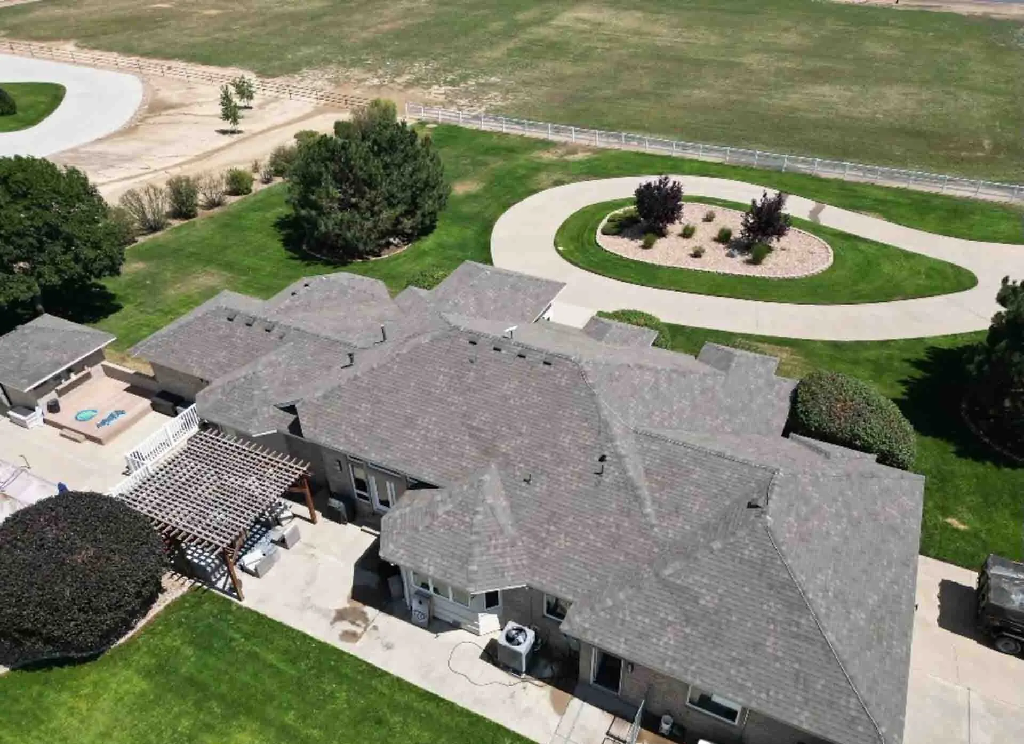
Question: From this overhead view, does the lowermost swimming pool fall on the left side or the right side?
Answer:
left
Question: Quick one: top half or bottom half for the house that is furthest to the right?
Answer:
bottom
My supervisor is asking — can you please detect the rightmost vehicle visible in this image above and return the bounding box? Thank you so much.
[973,562,1024,657]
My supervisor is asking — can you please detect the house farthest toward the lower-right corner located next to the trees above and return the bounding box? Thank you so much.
[128,260,927,744]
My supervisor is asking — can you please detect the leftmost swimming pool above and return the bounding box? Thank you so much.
[0,457,67,511]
